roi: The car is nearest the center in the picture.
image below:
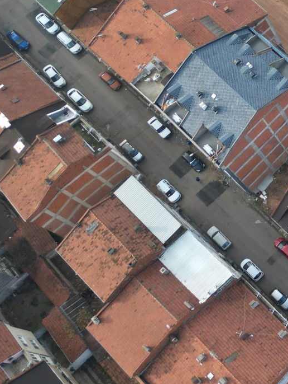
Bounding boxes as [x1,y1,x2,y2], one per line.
[153,177,183,204]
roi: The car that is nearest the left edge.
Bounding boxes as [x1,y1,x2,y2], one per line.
[5,29,30,50]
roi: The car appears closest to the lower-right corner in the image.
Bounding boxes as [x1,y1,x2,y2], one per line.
[267,284,288,311]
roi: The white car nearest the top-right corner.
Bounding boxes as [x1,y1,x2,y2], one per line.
[146,114,174,140]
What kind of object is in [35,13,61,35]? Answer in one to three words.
car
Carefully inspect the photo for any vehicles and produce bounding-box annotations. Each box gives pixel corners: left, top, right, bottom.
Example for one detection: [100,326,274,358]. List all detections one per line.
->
[116,137,146,165]
[66,88,93,112]
[5,29,30,50]
[153,177,183,204]
[267,284,288,311]
[146,114,174,140]
[35,13,61,35]
[42,64,67,88]
[57,31,83,54]
[238,255,267,284]
[97,69,123,91]
[177,146,208,175]
[206,226,234,251]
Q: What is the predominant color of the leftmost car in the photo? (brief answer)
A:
blue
